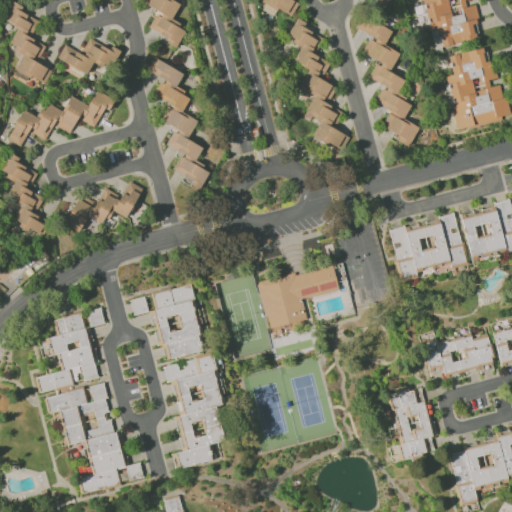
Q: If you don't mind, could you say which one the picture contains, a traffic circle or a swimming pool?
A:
swimming pool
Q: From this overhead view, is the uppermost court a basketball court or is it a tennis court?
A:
tennis court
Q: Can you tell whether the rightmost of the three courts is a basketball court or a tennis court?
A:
tennis court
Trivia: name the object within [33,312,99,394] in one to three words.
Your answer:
building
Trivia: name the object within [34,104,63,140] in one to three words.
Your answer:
house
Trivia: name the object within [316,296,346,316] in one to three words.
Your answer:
swimming pool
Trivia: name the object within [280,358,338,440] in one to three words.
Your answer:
tennis court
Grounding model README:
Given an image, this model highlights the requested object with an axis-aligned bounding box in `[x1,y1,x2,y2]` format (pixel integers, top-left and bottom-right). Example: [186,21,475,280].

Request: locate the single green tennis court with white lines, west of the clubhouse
[217,276,272,358]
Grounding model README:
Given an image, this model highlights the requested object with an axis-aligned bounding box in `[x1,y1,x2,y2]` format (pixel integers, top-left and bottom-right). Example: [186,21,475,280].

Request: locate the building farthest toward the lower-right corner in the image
[450,434,512,506]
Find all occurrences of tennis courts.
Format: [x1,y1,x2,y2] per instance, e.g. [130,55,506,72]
[244,368,300,452]
[280,358,338,440]
[217,276,272,358]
